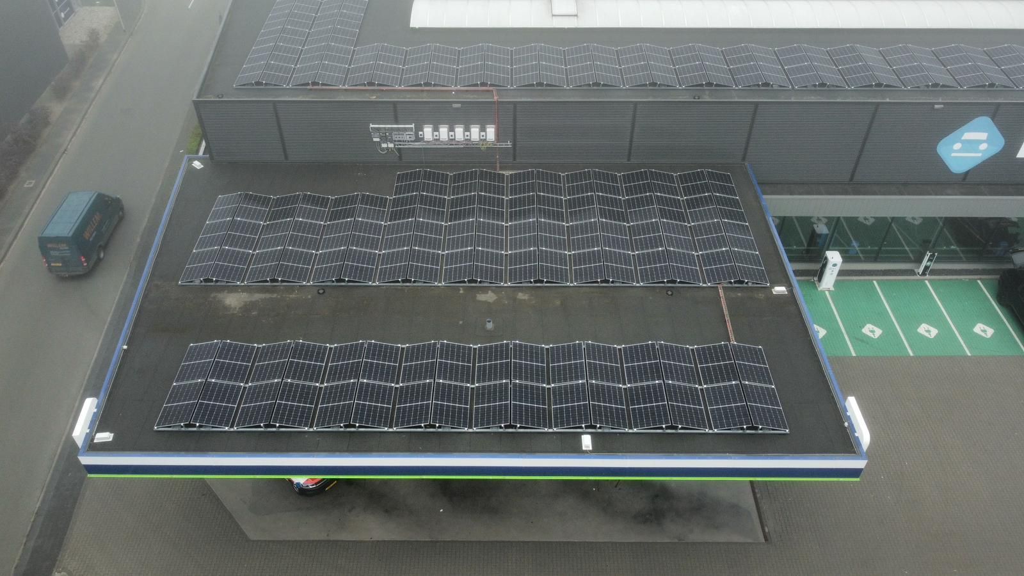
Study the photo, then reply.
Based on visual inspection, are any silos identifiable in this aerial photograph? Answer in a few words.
No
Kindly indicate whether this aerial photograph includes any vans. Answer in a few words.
Yes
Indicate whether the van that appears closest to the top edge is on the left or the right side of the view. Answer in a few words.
left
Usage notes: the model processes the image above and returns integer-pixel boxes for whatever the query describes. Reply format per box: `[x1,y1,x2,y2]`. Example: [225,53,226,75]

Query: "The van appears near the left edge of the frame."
[37,188,125,276]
